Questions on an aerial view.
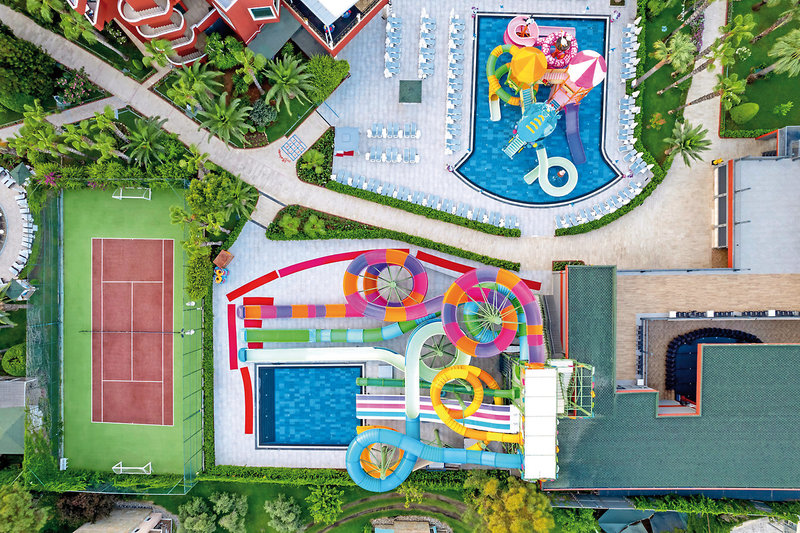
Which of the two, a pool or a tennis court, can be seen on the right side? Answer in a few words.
pool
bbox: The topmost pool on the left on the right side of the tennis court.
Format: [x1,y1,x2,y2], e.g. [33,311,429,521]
[255,363,363,448]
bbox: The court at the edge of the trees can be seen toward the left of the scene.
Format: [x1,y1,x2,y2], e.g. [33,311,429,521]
[64,187,204,471]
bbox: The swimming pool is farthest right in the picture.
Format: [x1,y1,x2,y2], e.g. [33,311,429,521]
[454,13,623,206]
